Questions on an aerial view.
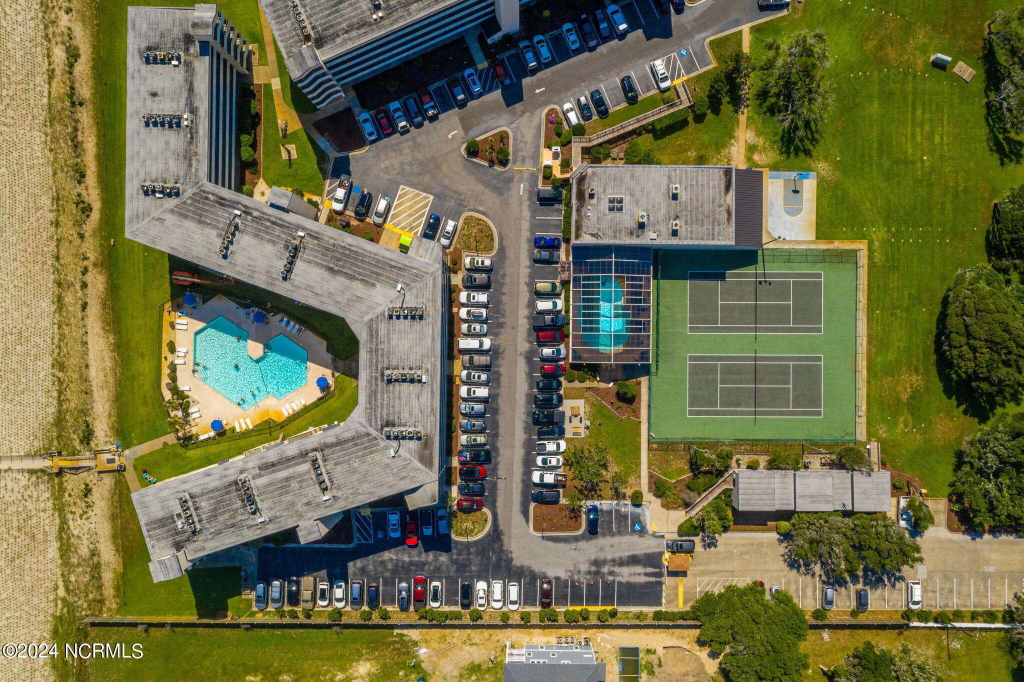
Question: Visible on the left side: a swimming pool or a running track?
swimming pool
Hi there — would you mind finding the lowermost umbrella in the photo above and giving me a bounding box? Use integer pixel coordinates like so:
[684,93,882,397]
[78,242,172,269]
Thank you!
[210,418,225,432]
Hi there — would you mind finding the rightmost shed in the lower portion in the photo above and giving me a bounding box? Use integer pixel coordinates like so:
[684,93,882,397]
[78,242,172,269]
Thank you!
[724,465,897,512]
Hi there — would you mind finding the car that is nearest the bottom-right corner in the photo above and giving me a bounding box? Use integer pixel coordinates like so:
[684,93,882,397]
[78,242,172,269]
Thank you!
[906,579,923,610]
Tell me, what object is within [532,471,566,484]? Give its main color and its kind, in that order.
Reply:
white vehicle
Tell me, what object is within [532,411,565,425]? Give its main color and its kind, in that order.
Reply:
black vehicle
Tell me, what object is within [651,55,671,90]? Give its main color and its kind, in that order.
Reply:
white car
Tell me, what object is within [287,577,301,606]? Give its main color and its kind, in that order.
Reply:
black car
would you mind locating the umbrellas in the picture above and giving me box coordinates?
[210,418,225,432]
[316,376,330,390]
[183,292,197,306]
[252,310,267,324]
